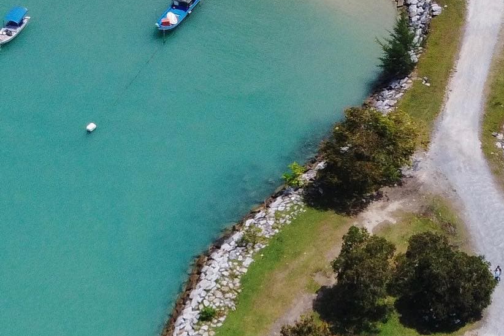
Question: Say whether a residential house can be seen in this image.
No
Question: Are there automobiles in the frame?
No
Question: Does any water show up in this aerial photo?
Yes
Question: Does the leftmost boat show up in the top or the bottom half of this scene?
top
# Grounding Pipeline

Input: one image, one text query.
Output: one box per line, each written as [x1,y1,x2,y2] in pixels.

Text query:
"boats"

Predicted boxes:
[157,0,205,30]
[0,3,34,44]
